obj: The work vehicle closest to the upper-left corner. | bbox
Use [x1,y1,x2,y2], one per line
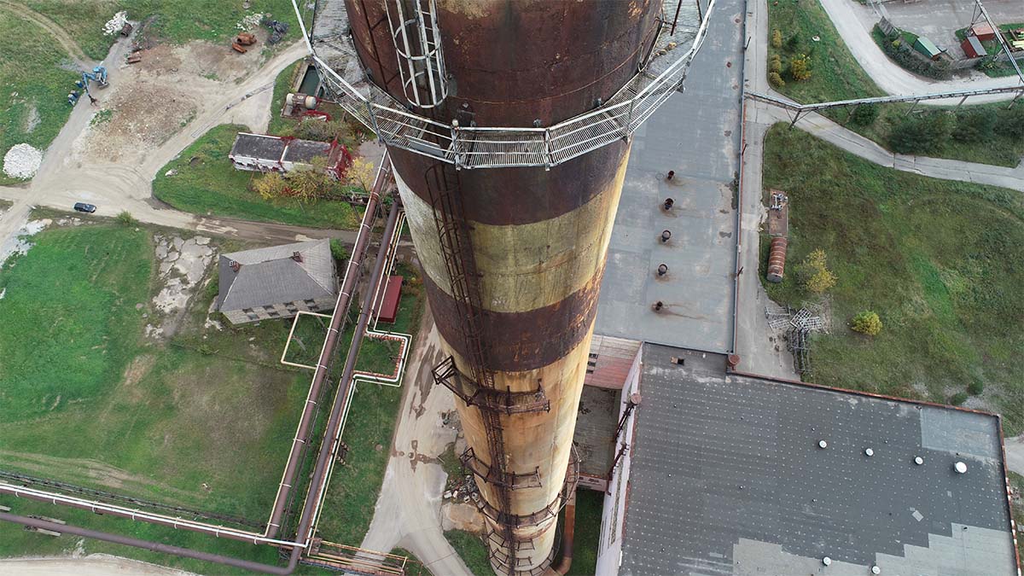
[81,65,111,107]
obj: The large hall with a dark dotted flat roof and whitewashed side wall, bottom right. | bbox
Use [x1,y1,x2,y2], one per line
[598,355,1022,576]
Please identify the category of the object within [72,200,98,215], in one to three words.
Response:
car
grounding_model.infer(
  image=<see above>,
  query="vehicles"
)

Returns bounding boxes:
[72,200,98,215]
[81,65,111,107]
